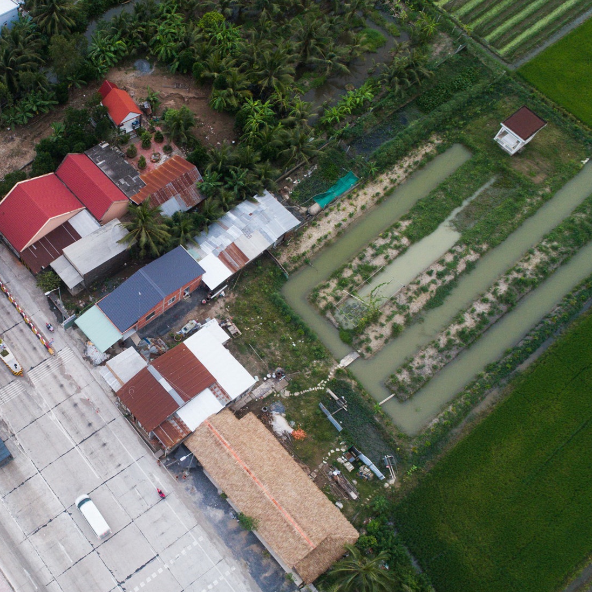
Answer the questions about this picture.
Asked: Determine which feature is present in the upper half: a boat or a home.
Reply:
home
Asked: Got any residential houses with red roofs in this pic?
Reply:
Yes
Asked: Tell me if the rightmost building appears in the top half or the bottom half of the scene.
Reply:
top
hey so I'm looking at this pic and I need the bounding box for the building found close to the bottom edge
[177,409,361,585]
